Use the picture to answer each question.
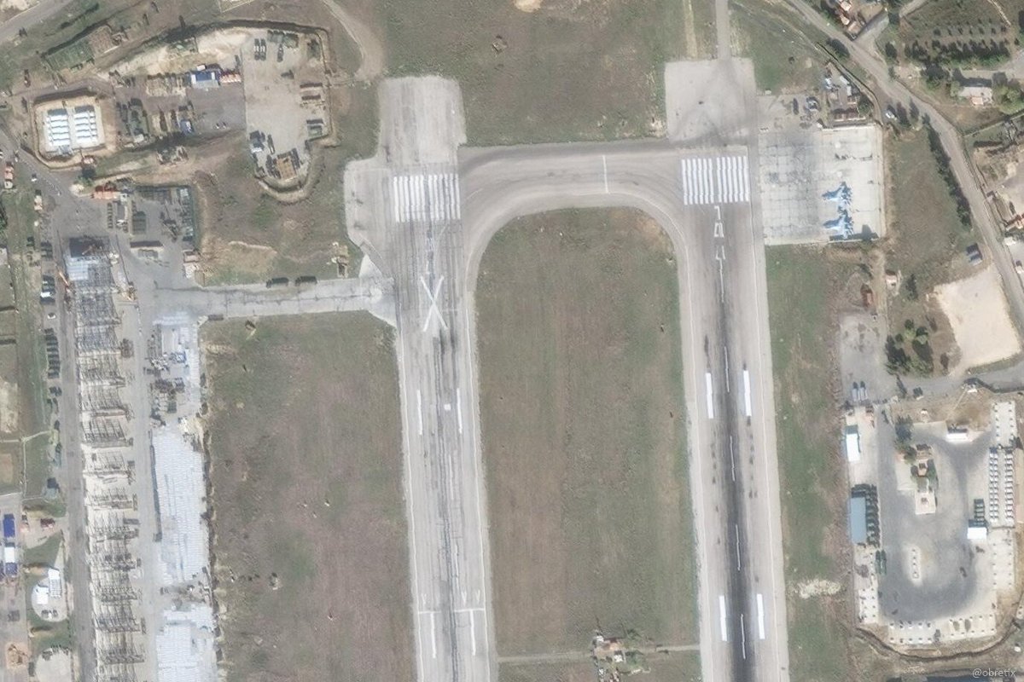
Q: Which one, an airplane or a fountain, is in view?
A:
airplane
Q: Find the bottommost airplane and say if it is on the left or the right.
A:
right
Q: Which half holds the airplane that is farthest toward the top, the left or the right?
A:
right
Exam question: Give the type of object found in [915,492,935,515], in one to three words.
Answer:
building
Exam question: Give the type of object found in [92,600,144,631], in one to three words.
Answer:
hangar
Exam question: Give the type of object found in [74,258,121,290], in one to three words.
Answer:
hangar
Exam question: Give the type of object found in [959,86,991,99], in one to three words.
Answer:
house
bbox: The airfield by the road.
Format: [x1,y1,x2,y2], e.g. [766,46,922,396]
[73,57,887,682]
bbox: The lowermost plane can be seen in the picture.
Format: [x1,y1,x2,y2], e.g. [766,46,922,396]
[824,215,855,238]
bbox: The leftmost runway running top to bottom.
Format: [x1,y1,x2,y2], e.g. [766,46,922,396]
[391,146,498,682]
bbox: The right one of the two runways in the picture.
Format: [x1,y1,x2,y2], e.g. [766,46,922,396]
[657,129,789,682]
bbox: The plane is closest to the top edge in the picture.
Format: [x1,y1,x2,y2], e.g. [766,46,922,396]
[823,186,854,209]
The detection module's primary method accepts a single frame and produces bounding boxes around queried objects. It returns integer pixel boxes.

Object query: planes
[824,215,855,238]
[823,186,854,209]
